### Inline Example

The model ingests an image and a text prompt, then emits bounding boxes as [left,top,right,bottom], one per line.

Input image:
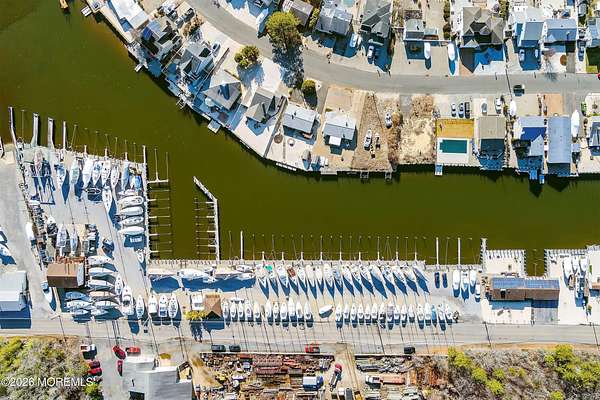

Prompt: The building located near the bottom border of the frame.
[121,358,193,400]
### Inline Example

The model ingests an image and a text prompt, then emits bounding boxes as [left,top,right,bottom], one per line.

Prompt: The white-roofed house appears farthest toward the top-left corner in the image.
[105,0,151,32]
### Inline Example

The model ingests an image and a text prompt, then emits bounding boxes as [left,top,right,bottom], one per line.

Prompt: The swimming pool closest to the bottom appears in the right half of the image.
[438,139,468,155]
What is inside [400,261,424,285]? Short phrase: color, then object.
white boat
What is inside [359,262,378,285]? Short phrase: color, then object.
white boat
